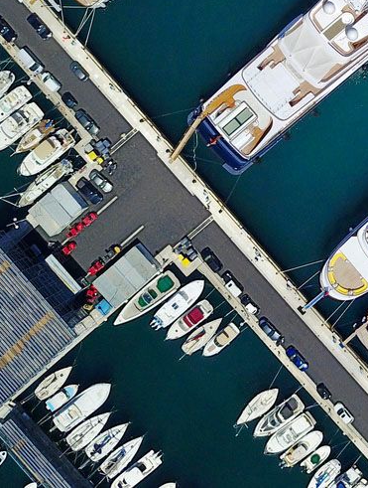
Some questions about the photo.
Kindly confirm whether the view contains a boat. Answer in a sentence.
Yes, you can see a boat in this photo.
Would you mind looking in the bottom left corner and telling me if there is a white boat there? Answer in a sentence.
Yes, in the bottom left corner there is a white boat.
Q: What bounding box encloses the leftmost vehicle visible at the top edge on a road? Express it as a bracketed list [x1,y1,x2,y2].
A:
[0,15,17,40]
